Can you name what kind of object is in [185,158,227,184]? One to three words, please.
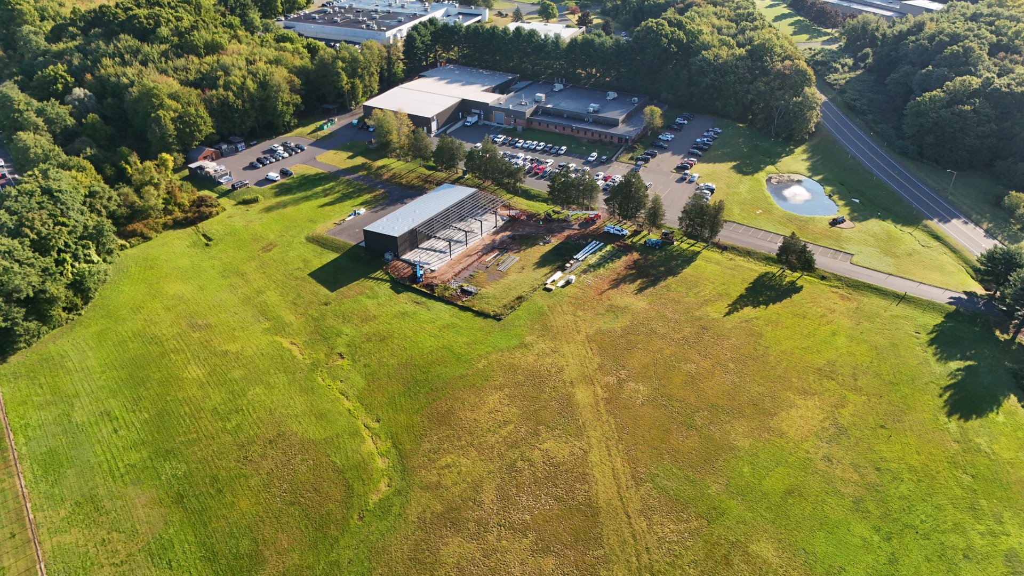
shed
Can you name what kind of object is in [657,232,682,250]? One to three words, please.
work vehicle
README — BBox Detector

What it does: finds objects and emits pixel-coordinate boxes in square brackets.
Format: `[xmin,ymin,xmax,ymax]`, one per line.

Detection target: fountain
[782,189,815,204]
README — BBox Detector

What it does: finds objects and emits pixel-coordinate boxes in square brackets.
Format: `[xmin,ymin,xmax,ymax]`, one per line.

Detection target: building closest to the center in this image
[361,182,510,270]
